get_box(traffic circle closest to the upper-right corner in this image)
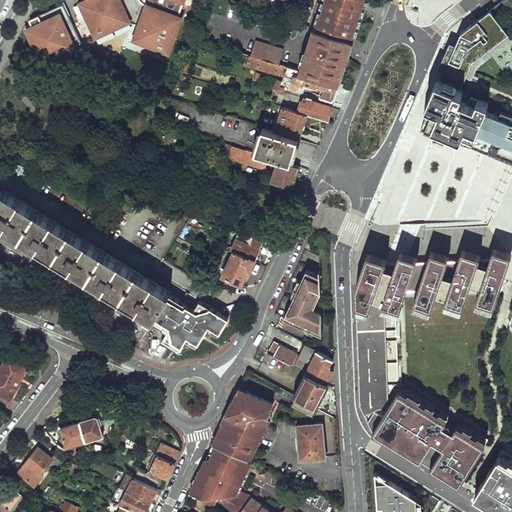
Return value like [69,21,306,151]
[347,42,416,160]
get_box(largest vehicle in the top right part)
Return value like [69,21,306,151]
[400,95,413,122]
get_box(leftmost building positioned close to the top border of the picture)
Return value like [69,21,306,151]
[24,2,82,64]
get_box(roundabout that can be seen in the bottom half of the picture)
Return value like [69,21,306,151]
[163,364,225,432]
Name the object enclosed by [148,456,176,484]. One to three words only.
house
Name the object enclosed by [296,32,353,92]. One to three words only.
house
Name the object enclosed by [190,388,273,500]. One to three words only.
building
